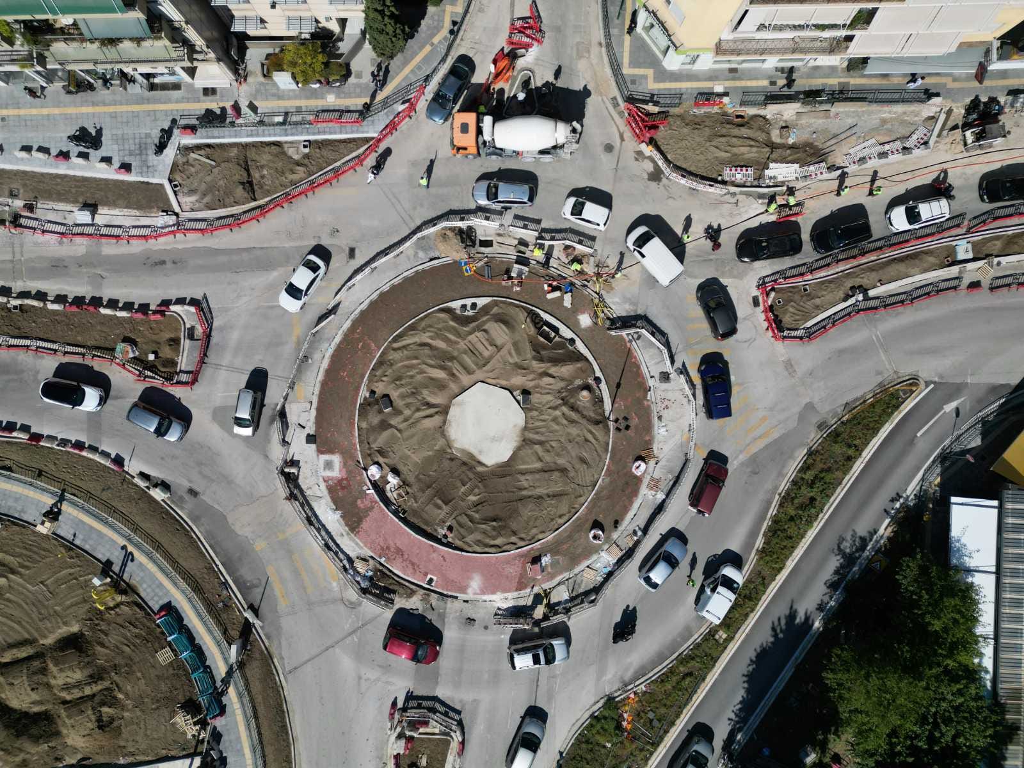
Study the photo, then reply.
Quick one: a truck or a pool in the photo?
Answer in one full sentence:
It is a truck that can be seen here.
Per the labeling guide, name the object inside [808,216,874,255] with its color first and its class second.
black car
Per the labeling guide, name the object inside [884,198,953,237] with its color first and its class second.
white car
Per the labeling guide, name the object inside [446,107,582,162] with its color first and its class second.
white truck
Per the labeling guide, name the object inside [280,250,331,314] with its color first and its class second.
white car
